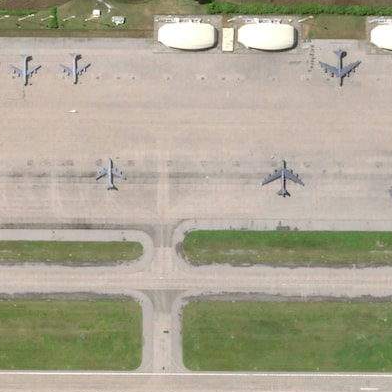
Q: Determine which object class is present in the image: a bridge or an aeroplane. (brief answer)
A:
aeroplane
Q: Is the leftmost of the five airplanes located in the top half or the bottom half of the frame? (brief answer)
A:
top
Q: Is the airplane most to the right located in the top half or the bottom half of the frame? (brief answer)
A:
top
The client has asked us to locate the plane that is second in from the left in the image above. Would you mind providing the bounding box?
[61,53,92,84]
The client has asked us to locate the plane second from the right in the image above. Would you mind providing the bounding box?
[265,160,306,196]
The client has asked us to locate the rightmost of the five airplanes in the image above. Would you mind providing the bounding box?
[322,48,363,85]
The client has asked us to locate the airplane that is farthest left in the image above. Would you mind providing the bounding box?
[12,54,42,85]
